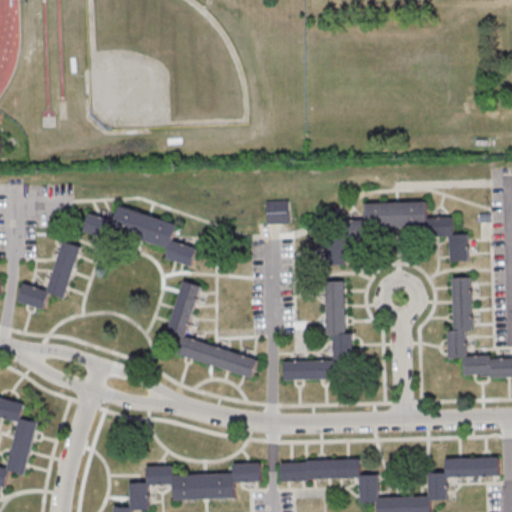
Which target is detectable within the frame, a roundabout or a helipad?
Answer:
roundabout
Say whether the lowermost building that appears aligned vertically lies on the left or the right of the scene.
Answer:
left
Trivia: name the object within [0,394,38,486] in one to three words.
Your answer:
building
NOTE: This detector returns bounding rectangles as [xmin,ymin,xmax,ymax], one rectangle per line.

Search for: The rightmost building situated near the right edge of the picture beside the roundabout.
[448,277,512,378]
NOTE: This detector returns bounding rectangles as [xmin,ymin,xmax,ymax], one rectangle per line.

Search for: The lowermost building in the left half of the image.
[114,461,261,512]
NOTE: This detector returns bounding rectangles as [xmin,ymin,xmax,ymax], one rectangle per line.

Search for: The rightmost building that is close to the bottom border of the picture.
[280,456,500,512]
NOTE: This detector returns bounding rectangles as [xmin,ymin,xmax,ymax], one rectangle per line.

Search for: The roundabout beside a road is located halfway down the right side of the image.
[374,269,428,334]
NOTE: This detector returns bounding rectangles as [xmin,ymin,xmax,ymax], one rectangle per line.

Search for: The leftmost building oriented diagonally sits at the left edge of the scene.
[18,242,80,309]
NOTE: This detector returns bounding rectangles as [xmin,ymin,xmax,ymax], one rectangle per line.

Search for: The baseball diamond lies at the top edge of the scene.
[90,0,248,128]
